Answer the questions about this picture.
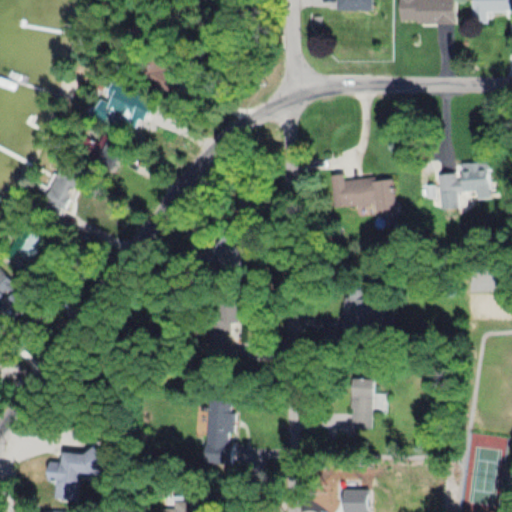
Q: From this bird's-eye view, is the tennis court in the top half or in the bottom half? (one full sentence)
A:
It is in the bottom half that the tennis court appears.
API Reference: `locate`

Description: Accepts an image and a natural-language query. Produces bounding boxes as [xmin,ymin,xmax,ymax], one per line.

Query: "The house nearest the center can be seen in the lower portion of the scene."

[214,300,238,328]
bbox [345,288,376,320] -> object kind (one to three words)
house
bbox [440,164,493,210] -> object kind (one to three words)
house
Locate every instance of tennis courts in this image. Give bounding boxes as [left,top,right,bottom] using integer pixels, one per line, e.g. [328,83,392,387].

[464,434,508,512]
